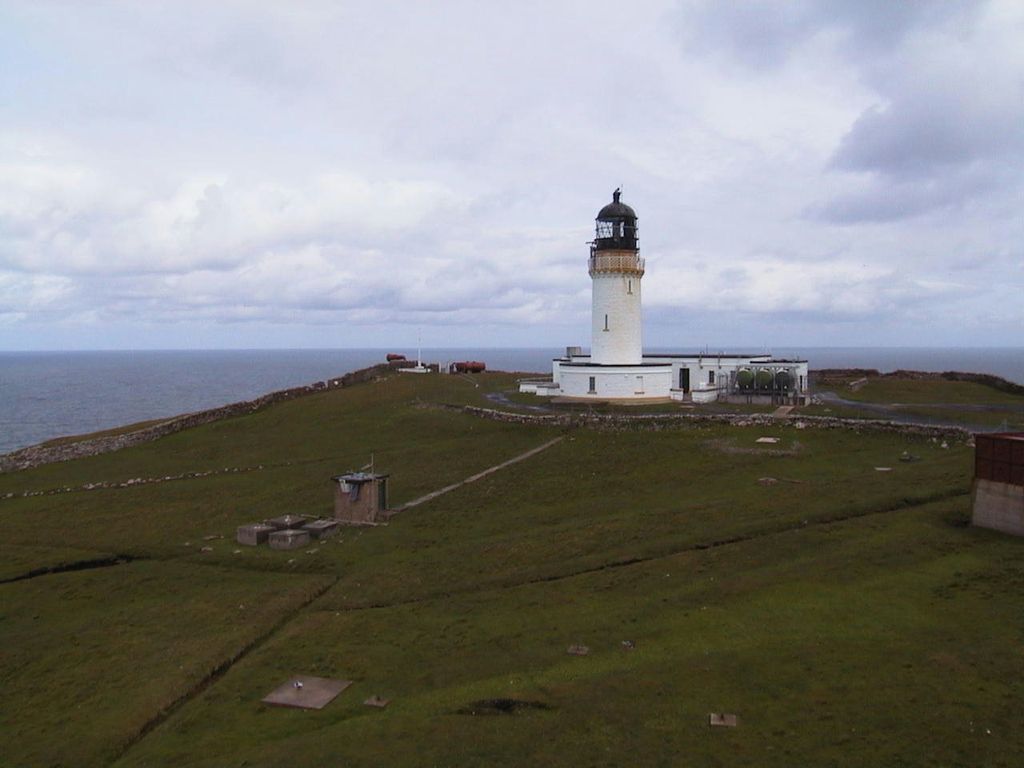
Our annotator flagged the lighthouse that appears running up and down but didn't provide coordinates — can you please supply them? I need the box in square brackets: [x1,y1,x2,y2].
[586,188,646,364]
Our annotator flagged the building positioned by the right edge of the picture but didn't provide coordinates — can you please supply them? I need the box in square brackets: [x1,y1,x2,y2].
[973,433,1024,536]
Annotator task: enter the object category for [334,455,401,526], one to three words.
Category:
shed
